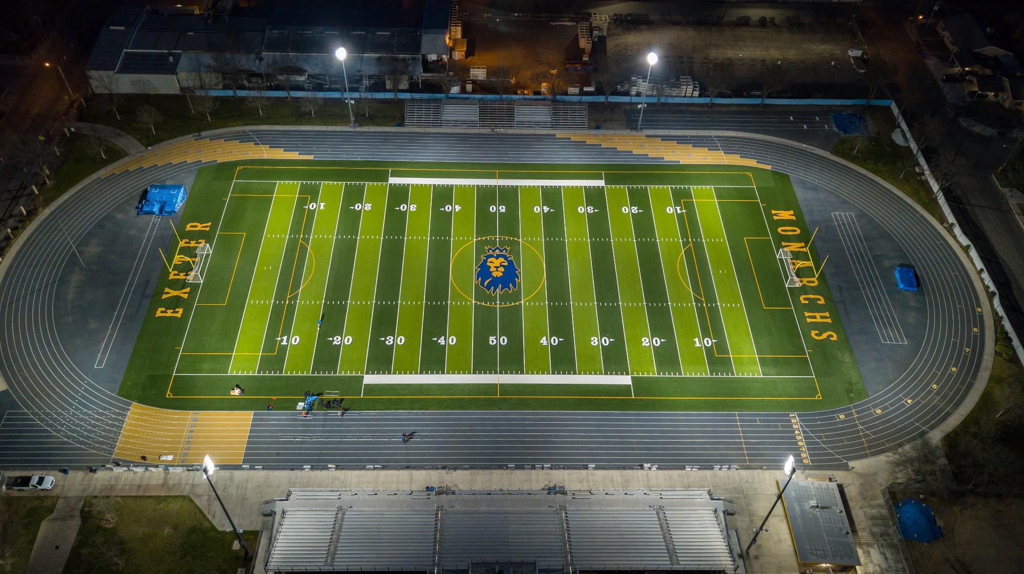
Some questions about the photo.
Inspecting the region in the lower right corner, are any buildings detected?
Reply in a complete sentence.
Yes, in the lower right corner there is a building.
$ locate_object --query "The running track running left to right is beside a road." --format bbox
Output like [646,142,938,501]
[0,114,986,468]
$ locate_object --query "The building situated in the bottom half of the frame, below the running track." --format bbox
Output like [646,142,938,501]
[778,482,861,569]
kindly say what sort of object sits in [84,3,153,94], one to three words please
house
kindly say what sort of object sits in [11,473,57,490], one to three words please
vehicle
